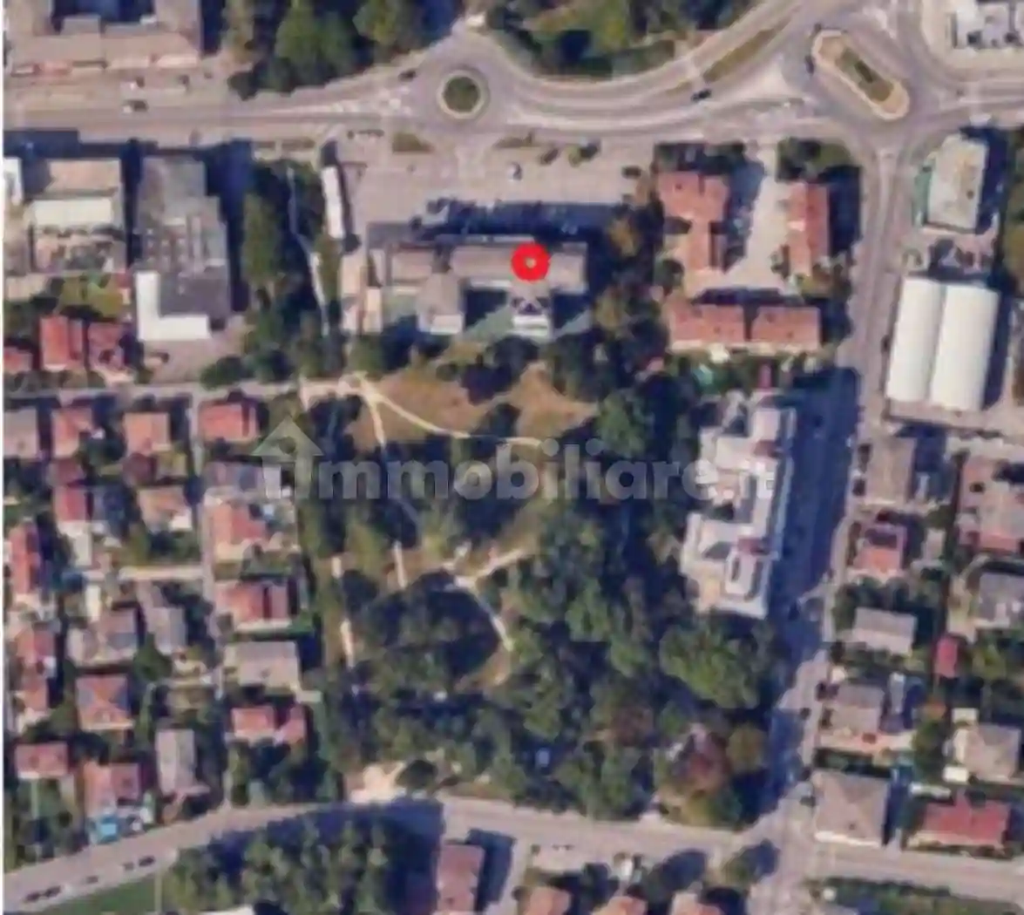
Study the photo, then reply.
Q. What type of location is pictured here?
residential area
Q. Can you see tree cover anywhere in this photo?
Yes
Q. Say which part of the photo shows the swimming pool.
bottom left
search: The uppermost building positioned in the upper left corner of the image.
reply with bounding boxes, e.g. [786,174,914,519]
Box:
[9,0,201,78]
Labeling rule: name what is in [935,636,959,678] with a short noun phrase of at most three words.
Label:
shed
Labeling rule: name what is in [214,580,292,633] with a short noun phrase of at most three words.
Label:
house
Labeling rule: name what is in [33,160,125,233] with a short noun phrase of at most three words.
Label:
building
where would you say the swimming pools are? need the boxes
[93,816,119,840]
